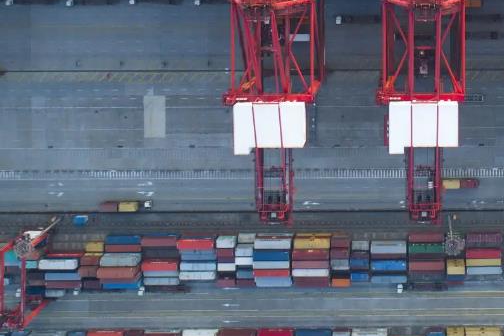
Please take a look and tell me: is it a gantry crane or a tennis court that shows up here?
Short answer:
gantry crane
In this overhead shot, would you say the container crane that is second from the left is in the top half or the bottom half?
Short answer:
top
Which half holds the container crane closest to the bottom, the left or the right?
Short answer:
left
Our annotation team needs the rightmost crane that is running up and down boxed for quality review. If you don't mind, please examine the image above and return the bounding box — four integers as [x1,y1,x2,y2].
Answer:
[378,0,469,232]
